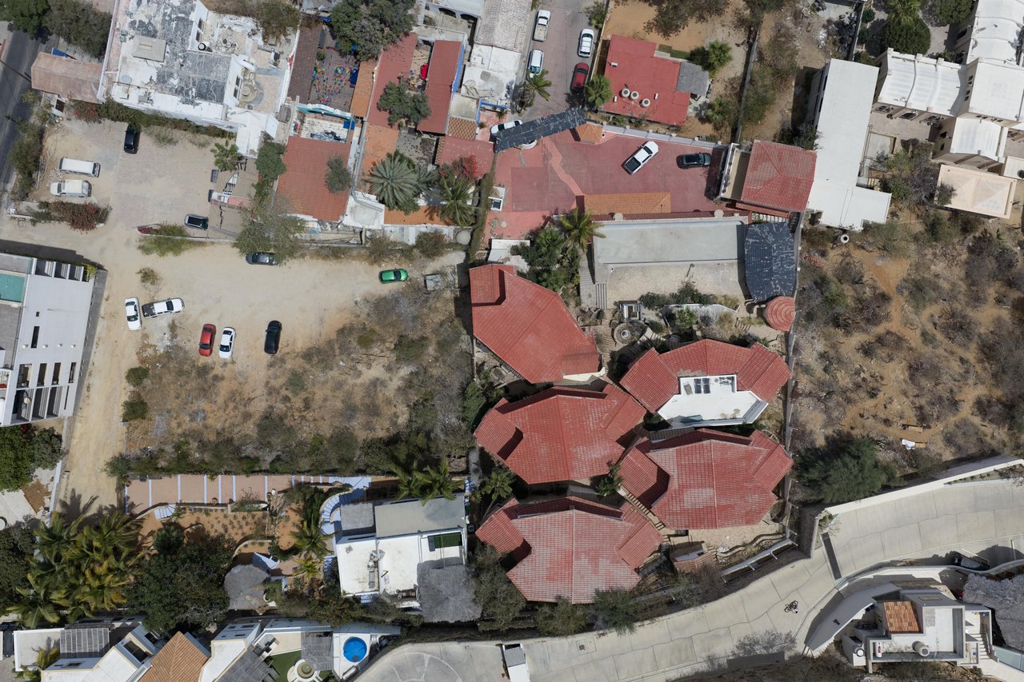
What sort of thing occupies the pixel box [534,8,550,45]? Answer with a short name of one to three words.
vehicle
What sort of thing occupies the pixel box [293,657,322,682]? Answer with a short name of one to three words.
fountain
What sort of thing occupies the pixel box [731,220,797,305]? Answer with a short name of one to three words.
building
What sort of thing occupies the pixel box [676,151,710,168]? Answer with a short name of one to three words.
car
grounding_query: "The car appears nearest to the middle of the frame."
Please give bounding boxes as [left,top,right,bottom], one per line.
[379,268,408,283]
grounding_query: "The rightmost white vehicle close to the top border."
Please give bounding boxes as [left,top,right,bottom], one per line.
[578,27,595,60]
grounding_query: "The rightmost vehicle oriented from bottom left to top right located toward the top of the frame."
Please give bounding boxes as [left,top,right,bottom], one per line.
[621,140,658,176]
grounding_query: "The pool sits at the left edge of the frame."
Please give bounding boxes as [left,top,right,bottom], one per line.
[0,271,26,303]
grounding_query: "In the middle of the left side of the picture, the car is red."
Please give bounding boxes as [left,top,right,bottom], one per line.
[198,324,217,356]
